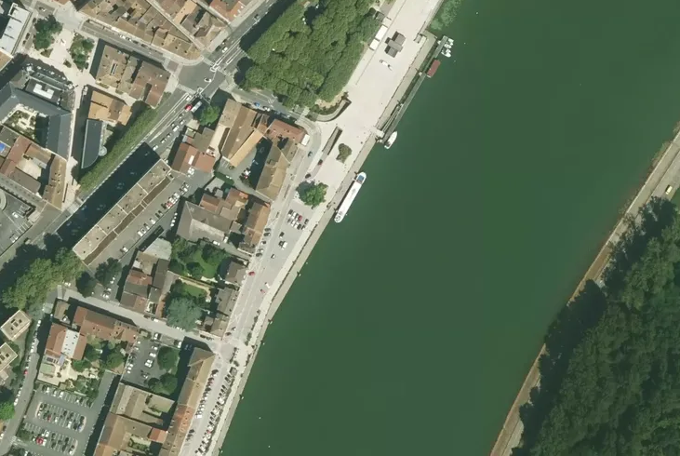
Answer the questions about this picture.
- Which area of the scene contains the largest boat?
center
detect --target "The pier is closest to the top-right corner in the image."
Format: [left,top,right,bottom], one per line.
[381,36,448,137]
